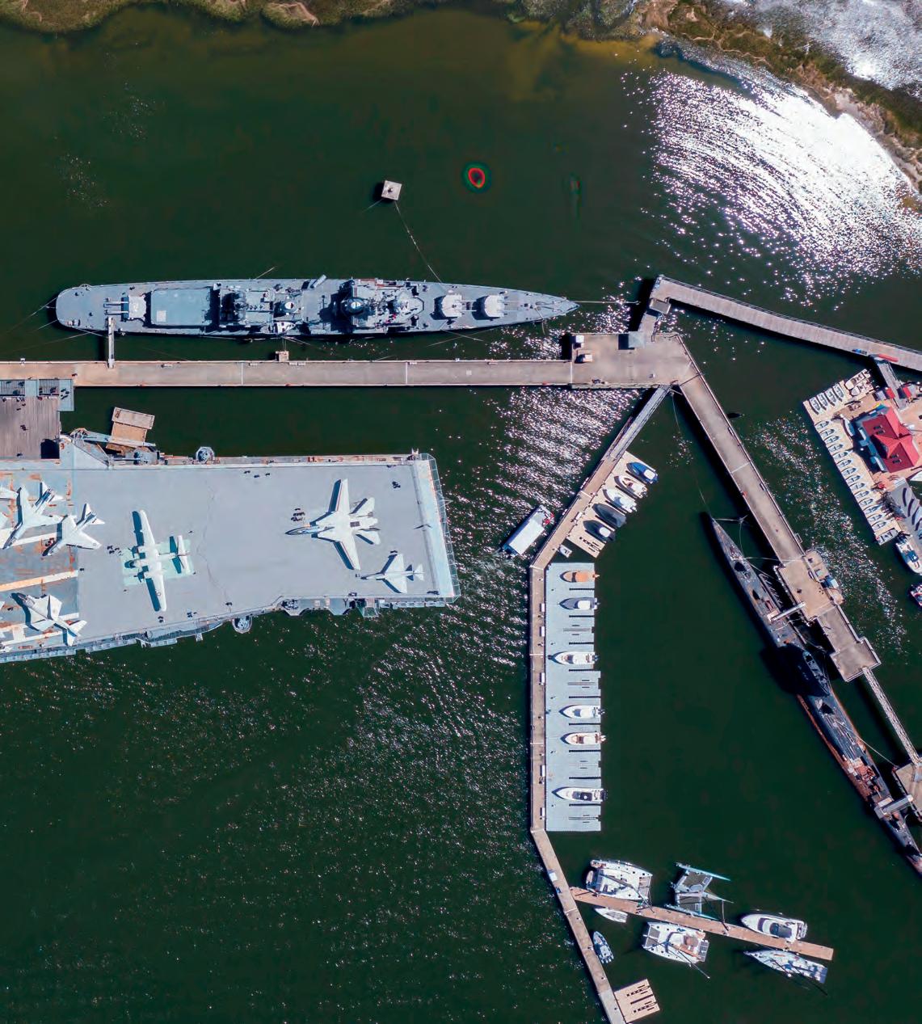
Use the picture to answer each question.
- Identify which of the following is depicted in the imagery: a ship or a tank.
ship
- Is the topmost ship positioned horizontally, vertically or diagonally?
horizontally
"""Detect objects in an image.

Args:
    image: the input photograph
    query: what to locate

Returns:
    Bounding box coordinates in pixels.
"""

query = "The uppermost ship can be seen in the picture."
[54,275,580,337]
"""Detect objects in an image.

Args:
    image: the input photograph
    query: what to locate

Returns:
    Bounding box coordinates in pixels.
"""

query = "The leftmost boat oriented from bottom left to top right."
[499,506,551,560]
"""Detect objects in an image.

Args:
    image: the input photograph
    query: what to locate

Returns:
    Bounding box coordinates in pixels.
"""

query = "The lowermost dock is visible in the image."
[613,977,660,1023]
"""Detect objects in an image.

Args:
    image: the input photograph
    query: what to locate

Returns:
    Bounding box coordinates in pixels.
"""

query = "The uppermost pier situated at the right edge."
[649,276,922,371]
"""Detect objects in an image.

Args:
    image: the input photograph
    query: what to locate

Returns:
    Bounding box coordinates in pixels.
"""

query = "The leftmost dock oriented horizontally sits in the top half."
[0,360,571,388]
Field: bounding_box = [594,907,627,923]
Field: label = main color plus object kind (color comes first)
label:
white boat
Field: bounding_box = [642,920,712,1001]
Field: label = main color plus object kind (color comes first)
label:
white boat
